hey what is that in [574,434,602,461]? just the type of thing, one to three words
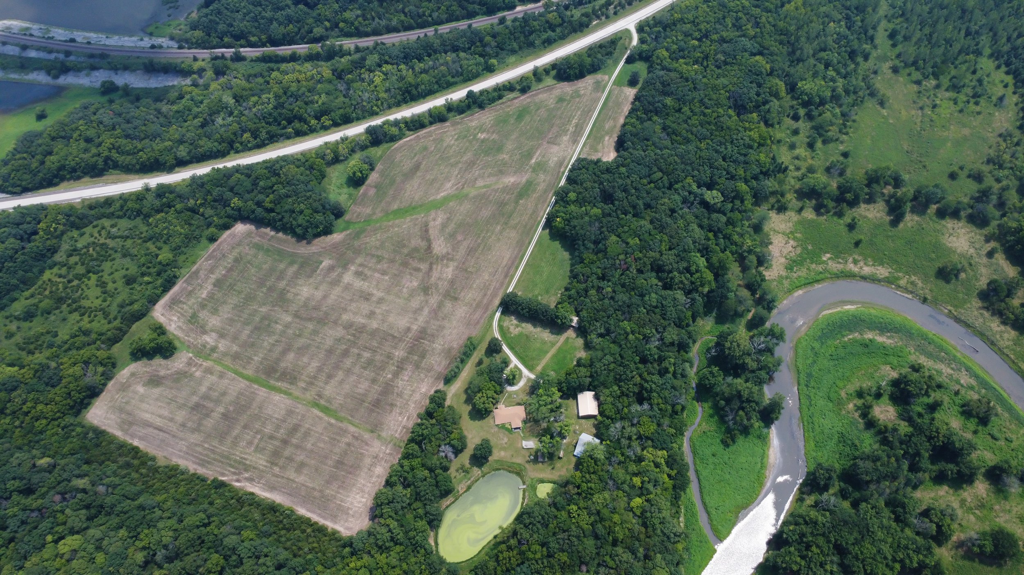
shed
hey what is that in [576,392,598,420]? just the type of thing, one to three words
barn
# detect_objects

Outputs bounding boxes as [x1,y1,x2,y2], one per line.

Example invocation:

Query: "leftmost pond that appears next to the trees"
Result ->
[436,469,524,562]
